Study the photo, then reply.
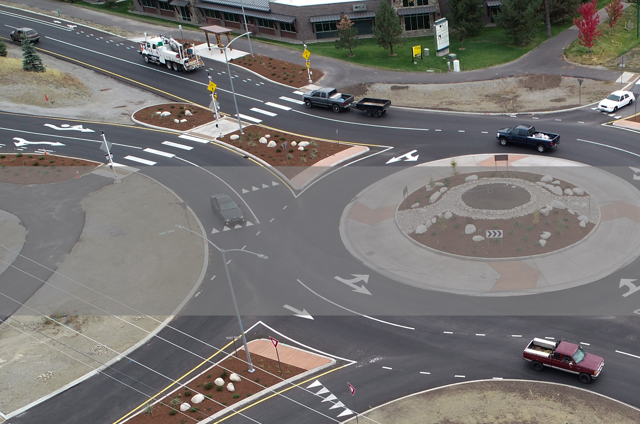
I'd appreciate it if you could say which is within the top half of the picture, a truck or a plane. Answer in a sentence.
You can see a truck within the top half of the picture.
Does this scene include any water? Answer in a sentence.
No, no water is visible.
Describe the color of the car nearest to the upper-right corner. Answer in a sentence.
The car nearest to the upper-right corner looks white in the image.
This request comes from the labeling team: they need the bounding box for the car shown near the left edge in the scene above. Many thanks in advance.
[10,25,44,44]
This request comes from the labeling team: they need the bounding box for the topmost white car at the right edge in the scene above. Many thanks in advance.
[596,89,638,112]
